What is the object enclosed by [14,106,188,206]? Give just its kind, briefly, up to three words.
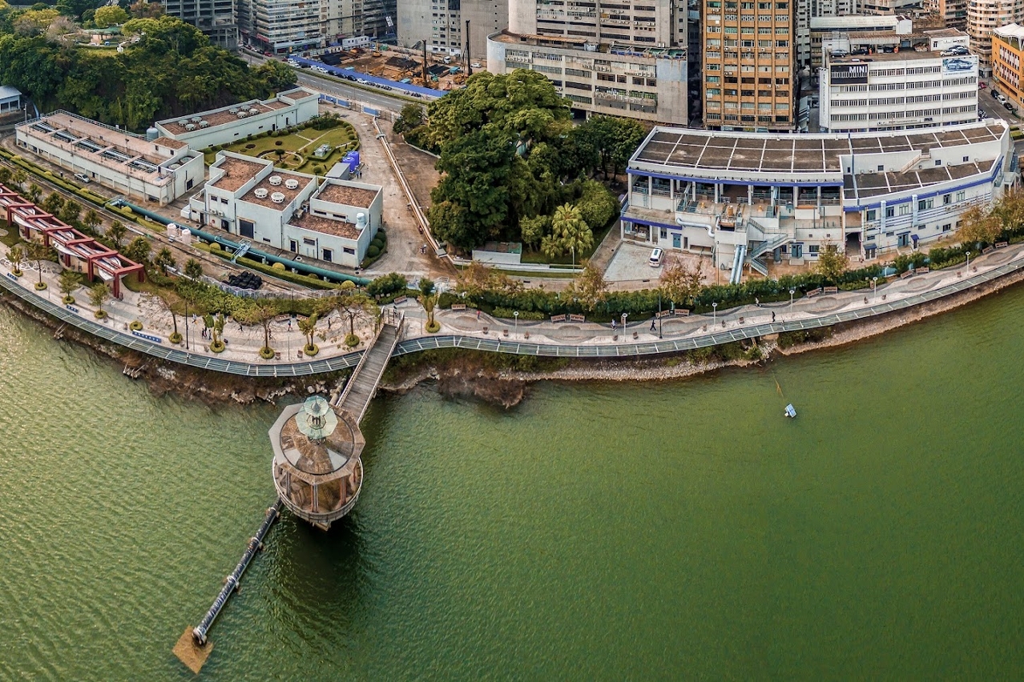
building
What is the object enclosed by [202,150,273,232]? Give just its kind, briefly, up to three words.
building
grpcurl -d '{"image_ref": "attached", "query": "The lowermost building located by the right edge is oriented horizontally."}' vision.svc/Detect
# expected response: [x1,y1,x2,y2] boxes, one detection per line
[619,119,1024,278]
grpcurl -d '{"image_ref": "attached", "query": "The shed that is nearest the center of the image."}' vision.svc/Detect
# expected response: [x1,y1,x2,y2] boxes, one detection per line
[472,241,521,265]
